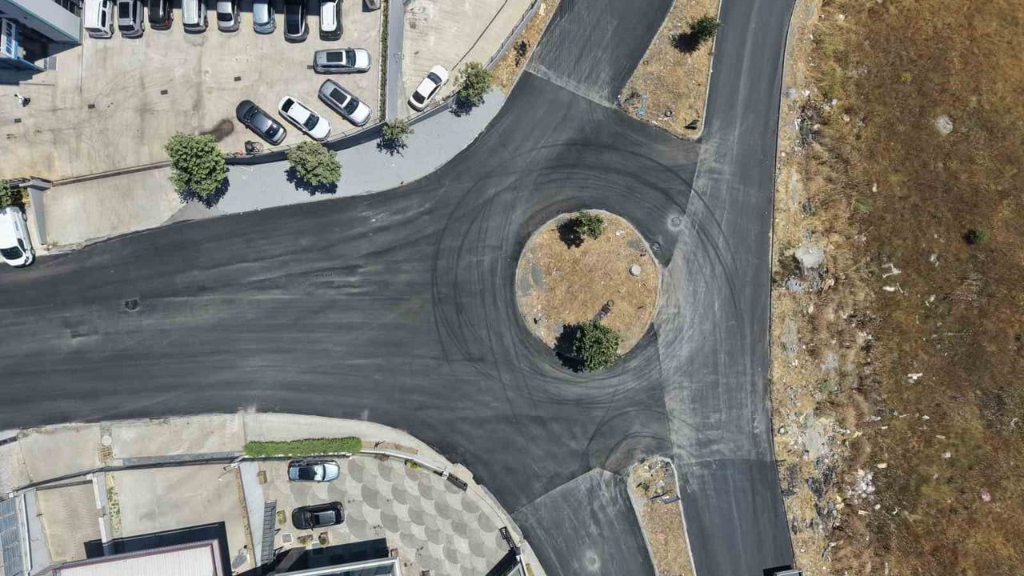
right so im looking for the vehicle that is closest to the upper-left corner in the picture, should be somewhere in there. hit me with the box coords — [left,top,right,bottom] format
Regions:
[81,0,116,39]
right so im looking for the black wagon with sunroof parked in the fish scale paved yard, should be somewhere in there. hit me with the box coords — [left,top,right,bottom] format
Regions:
[291,501,346,532]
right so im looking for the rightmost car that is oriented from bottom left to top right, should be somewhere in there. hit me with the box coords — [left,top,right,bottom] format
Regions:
[404,62,453,115]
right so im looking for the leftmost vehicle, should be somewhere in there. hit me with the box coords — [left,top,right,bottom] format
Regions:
[0,205,39,268]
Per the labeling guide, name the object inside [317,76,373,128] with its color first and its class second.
gray car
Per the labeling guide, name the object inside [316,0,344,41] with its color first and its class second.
white car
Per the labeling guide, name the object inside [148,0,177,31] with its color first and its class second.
black car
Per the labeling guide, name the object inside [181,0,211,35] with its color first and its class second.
gray car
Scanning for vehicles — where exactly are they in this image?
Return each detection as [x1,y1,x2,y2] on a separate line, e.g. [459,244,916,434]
[283,0,310,43]
[81,0,116,39]
[253,0,279,35]
[404,62,453,115]
[316,0,344,41]
[312,44,373,76]
[291,501,346,532]
[0,205,39,268]
[768,564,805,576]
[234,99,290,148]
[148,0,177,31]
[317,76,373,128]
[181,0,211,35]
[287,457,341,484]
[116,0,147,39]
[217,0,243,33]
[277,94,333,142]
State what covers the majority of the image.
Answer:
paved ground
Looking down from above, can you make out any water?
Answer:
No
